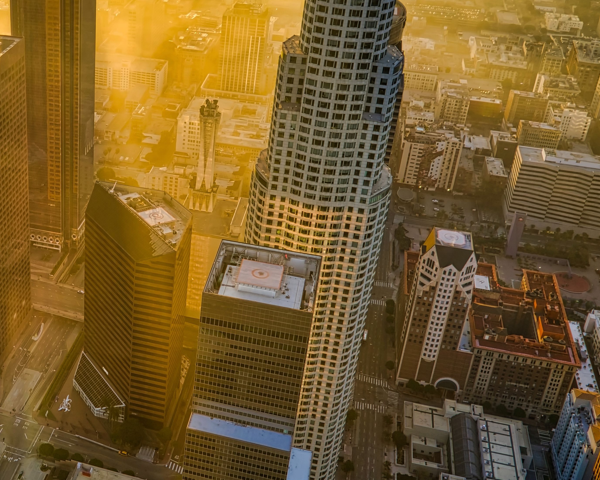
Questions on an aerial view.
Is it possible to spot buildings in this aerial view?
Yes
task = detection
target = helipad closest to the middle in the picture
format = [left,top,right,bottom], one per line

[236,259,284,291]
